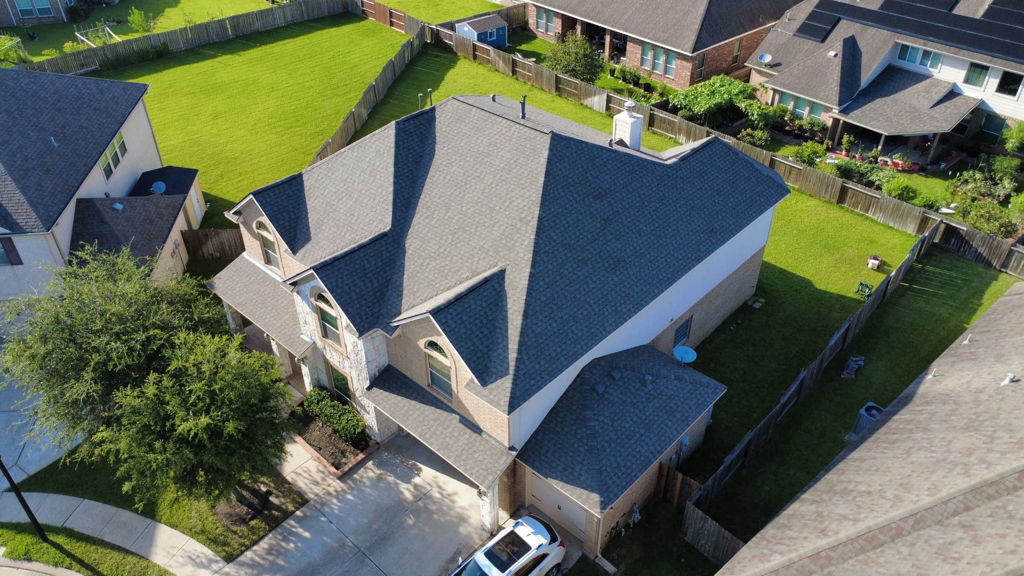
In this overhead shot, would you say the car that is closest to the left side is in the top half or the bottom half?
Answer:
bottom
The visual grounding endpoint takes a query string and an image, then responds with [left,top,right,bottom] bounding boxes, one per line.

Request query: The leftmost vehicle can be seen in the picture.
[462,513,565,576]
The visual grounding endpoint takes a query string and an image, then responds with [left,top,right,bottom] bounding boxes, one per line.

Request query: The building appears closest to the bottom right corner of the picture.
[714,278,1024,576]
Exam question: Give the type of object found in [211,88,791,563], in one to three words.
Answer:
house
